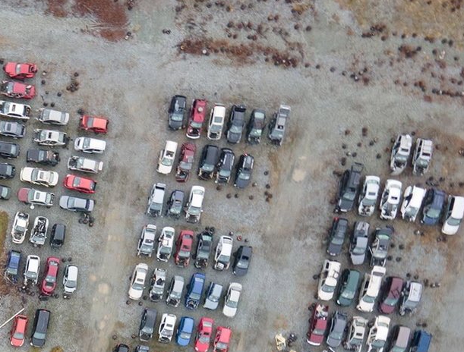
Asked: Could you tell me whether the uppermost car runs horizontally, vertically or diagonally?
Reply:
horizontally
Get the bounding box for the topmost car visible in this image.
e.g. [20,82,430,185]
[1,62,38,82]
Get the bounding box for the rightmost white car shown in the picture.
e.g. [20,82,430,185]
[439,194,464,236]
